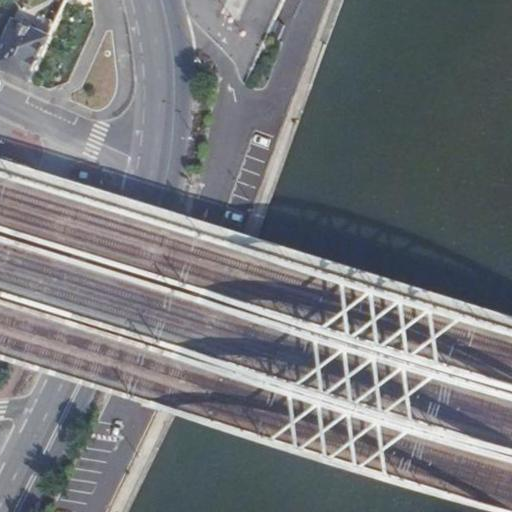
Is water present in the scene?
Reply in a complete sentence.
Yes, water shows up in the scene.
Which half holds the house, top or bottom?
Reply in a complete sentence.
The top half of the photo is where the house is.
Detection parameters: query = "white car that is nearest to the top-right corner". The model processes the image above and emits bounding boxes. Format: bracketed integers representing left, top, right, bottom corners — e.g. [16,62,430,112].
[252,134,272,148]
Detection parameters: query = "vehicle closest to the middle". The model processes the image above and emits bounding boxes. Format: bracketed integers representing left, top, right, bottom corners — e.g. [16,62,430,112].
[224,209,244,221]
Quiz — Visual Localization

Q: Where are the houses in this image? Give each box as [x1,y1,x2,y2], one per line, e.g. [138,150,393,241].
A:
[0,8,50,62]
